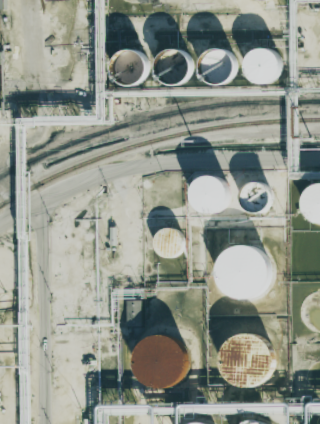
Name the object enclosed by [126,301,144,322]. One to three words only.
building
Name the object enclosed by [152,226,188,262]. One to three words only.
storage tank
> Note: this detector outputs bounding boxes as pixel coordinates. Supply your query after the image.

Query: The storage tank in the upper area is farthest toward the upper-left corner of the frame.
[108,48,152,89]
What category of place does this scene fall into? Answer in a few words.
industrial area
